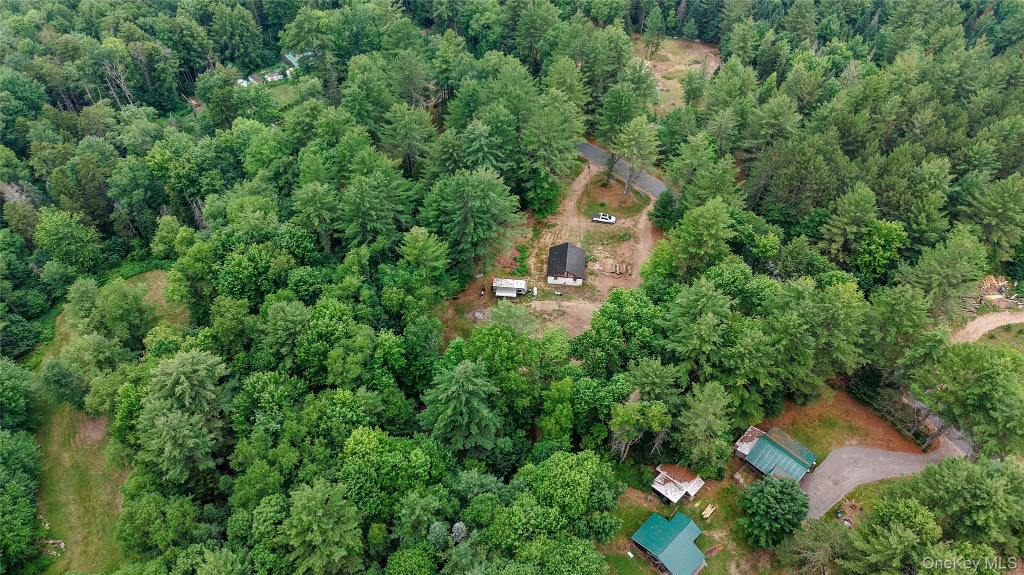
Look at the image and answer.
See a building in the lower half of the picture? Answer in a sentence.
Yes, the scene does show a building in the lower half of the picture.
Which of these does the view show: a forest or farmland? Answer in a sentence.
It's a forest.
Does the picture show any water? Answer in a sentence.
No, no water is visible.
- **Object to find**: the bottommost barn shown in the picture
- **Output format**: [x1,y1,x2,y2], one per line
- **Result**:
[630,511,707,575]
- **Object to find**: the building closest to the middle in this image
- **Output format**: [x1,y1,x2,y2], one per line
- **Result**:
[546,240,586,286]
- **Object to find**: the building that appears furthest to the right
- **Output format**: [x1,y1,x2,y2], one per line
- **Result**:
[734,426,820,491]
